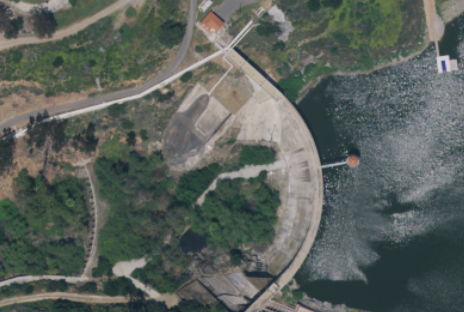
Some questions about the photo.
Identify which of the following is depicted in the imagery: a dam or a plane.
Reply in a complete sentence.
There is a dam in the scene.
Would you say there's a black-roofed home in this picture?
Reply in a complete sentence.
No, I find no black-roofed home anywhere in the image.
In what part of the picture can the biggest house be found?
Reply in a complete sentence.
The biggest house sits in the top section of the image.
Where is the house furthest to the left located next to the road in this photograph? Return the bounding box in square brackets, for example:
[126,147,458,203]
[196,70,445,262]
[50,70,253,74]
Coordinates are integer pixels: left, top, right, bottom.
[199,10,224,35]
